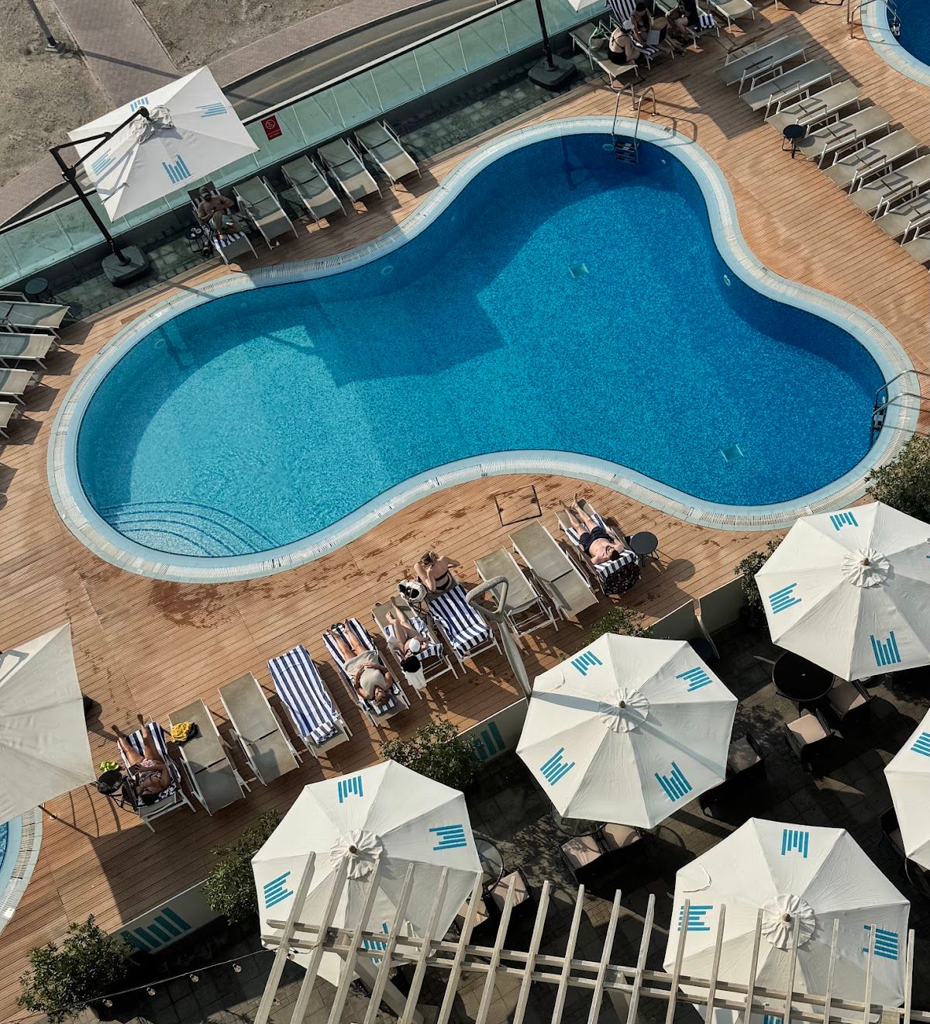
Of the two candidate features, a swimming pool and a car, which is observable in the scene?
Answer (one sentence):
Of the two, only a swimming pool appears.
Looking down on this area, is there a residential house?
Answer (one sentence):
No, I find no residential house anywhere in the image.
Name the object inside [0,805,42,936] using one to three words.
swimming pool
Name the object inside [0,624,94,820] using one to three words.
umbrella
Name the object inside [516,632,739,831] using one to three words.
umbrella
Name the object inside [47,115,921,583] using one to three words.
swimming pool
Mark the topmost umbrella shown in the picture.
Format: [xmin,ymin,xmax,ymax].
[527,0,618,85]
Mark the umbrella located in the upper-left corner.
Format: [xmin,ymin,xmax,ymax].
[56,70,264,278]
